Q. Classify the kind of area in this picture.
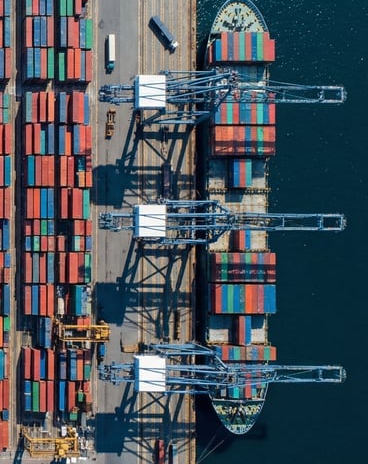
port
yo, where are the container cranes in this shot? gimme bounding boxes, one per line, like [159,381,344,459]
[23,425,80,455]
[98,333,345,395]
[52,318,111,343]
[98,196,345,249]
[98,73,345,133]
